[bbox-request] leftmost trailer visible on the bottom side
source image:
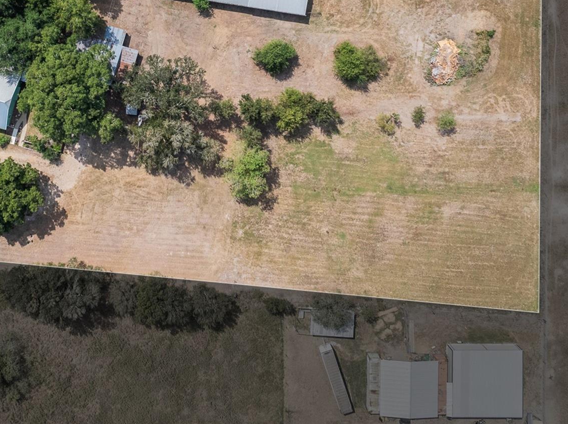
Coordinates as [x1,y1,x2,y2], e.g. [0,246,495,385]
[317,339,353,413]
